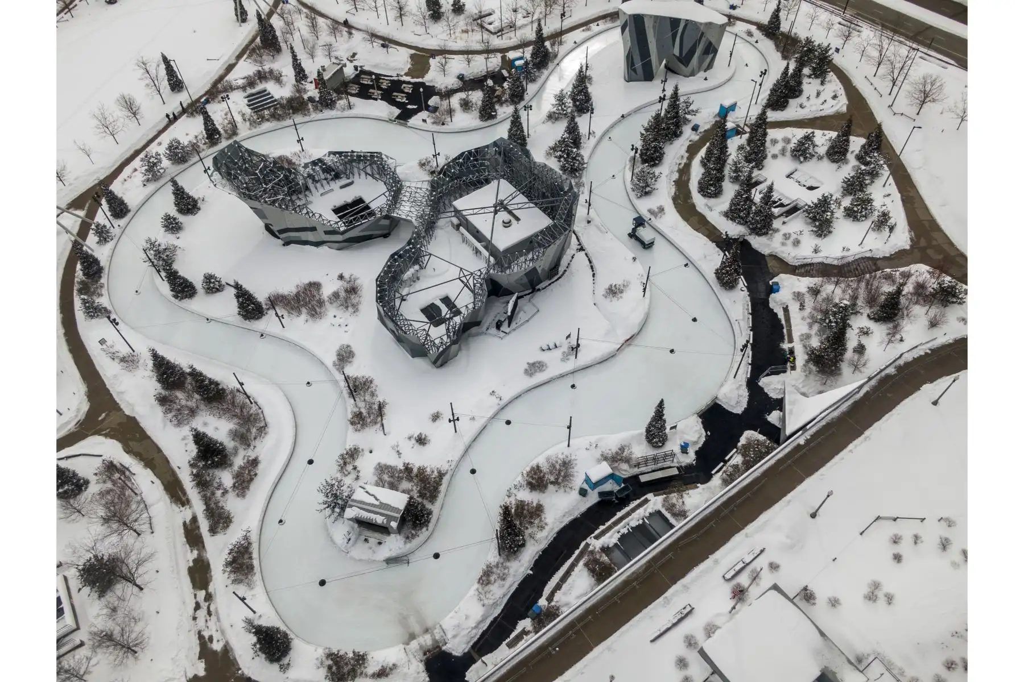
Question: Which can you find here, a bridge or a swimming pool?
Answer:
bridge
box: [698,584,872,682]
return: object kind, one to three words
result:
building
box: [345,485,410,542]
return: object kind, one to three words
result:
shed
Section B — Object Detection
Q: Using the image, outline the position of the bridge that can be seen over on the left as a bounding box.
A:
[388,180,429,219]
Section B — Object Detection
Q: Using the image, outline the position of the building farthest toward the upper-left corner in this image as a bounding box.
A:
[319,60,348,89]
